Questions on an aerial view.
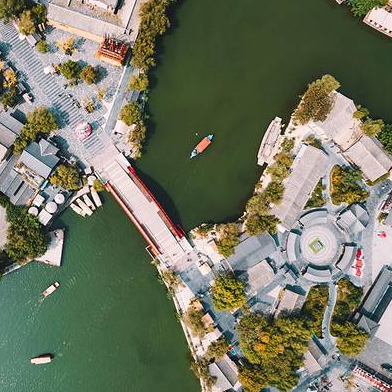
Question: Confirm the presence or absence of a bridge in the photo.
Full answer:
Yes, the picture does show a bridge.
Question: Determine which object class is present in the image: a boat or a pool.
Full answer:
The one in the frame is a boat.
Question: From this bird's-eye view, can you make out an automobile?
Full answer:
No, I can see no automobile in this picture.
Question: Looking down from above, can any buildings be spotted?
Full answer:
Yes, looking at the shot, I can spot a building.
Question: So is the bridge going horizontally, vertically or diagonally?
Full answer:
The bridge runs diagonally in the image.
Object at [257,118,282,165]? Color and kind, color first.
white boat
